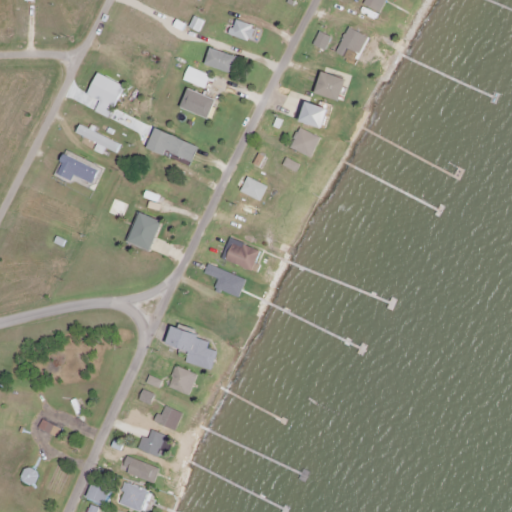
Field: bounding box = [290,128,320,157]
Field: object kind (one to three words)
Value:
house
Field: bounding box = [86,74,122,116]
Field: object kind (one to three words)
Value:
building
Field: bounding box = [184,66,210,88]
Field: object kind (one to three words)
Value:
building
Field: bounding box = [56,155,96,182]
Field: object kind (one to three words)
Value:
house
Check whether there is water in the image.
Yes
